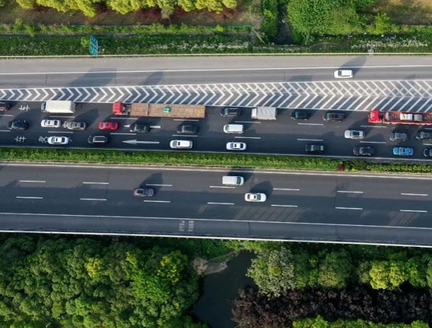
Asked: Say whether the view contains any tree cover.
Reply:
Yes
